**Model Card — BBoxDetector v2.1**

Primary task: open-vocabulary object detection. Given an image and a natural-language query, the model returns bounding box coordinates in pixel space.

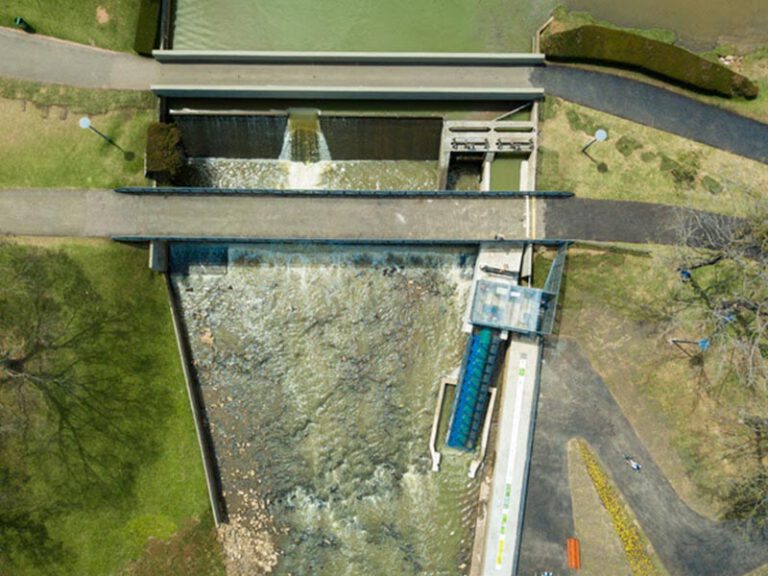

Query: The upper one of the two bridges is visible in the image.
[151,51,545,100]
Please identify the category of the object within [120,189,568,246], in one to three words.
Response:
bridge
